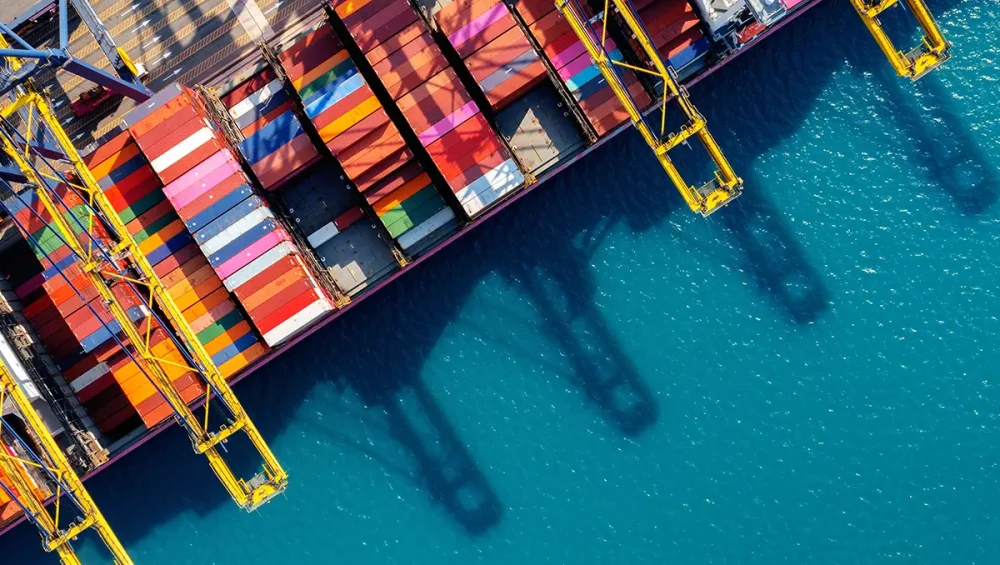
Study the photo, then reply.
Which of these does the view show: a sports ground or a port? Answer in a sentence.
This looks like a port.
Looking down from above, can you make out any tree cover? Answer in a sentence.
No, no tree cover is visible.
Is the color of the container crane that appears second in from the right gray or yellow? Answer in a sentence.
In this view, the container crane that appears second in from the right is yellow.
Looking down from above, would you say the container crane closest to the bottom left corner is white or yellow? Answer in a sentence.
The container crane closest to the bottom left corner looks yellow in the image.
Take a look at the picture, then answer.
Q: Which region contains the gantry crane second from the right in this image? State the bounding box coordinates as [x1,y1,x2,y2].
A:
[555,0,738,220]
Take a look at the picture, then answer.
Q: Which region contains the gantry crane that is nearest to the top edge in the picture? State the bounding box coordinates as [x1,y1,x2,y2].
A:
[848,0,947,86]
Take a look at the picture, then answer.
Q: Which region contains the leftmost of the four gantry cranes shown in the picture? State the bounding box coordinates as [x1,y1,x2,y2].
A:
[0,367,127,565]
